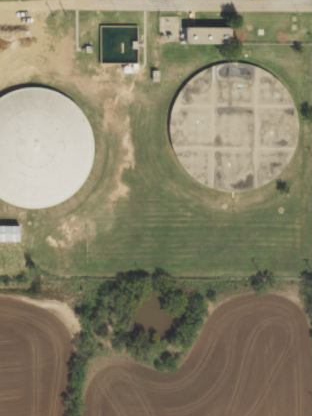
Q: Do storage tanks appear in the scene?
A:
Yes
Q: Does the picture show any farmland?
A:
Yes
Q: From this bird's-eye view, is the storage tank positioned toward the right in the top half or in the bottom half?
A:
top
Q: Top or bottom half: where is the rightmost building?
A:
top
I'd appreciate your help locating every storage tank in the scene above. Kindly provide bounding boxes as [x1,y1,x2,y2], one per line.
[170,62,300,196]
[0,86,96,205]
